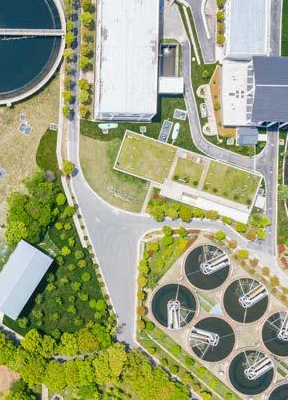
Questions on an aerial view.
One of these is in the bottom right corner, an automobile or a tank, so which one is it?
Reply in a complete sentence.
Visible in the bottom right corner is a tank.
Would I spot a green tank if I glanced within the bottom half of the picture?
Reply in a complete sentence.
No, within the bottom half of the picture there is no green tank.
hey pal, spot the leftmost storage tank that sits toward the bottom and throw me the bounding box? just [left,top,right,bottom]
[147,280,200,333]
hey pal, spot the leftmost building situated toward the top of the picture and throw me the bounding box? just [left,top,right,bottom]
[97,0,160,120]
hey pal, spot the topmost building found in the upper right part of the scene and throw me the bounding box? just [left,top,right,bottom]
[226,0,270,62]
